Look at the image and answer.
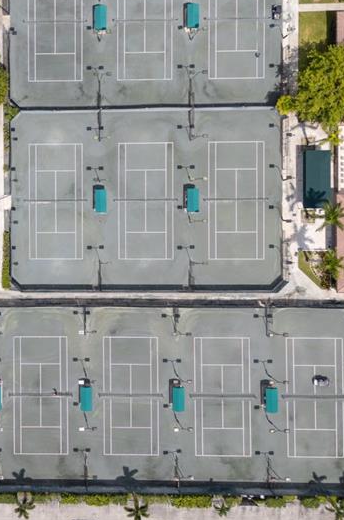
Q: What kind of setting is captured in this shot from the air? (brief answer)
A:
sports ground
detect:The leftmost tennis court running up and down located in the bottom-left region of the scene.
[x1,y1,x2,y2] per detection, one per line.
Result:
[0,309,86,486]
